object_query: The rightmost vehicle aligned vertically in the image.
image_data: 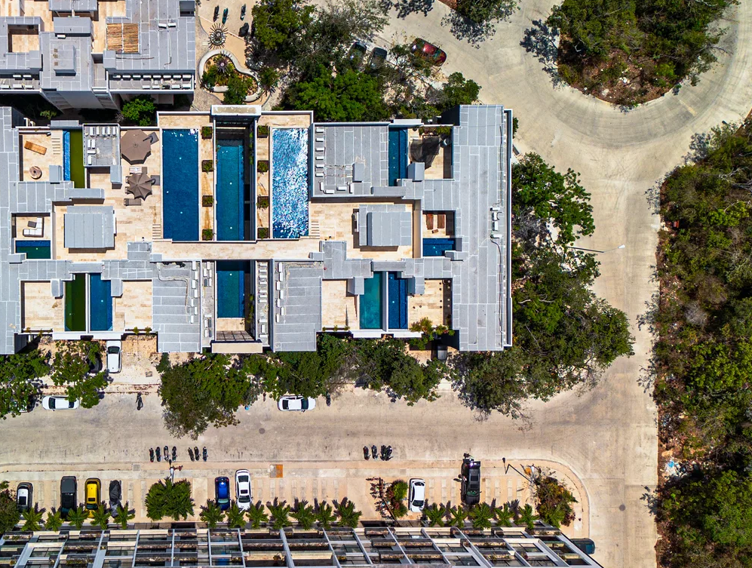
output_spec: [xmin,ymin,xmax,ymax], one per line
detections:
[462,461,484,507]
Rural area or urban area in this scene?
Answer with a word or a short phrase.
urban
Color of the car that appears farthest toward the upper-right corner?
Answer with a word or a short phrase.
red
